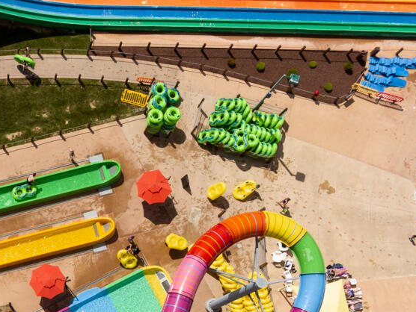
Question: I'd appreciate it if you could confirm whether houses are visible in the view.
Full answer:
No, there is no house in the image.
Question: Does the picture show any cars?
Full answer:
No, no car can be seen from above.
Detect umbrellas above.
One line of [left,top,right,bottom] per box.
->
[32,265,65,299]
[134,172,169,206]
